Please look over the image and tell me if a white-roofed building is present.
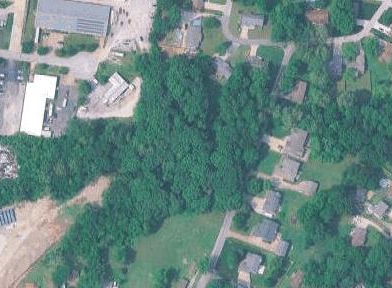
Yes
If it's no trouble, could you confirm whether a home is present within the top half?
Yes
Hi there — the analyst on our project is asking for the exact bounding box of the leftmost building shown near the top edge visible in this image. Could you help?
[33,0,111,35]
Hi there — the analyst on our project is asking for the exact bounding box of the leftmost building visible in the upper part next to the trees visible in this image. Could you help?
[20,74,57,135]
